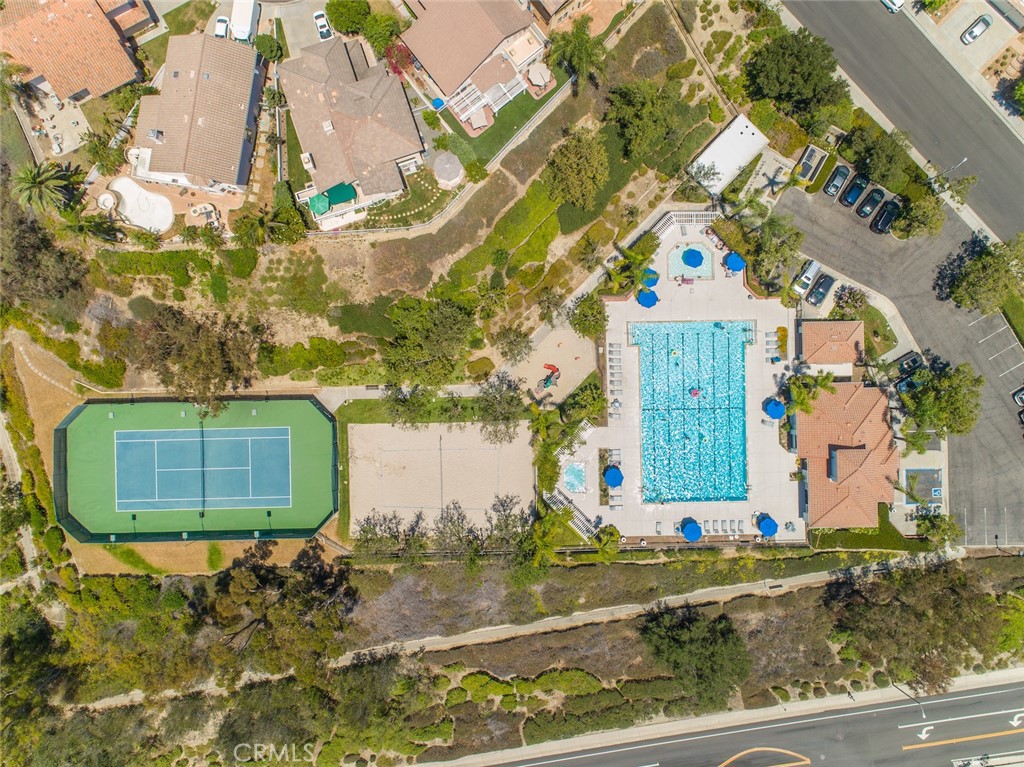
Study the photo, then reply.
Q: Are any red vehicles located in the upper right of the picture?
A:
No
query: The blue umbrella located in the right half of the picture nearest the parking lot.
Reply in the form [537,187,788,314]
[725,253,745,273]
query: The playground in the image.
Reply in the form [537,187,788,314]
[508,329,596,408]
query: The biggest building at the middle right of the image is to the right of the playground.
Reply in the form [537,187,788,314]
[791,382,900,529]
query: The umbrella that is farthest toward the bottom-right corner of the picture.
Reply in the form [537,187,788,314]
[757,516,776,535]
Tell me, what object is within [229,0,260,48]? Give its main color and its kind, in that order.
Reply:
white camper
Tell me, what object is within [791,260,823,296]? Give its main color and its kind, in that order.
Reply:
white car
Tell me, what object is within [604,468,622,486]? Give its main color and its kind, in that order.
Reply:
blue umbrella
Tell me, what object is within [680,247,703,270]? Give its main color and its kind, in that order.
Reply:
blue umbrella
